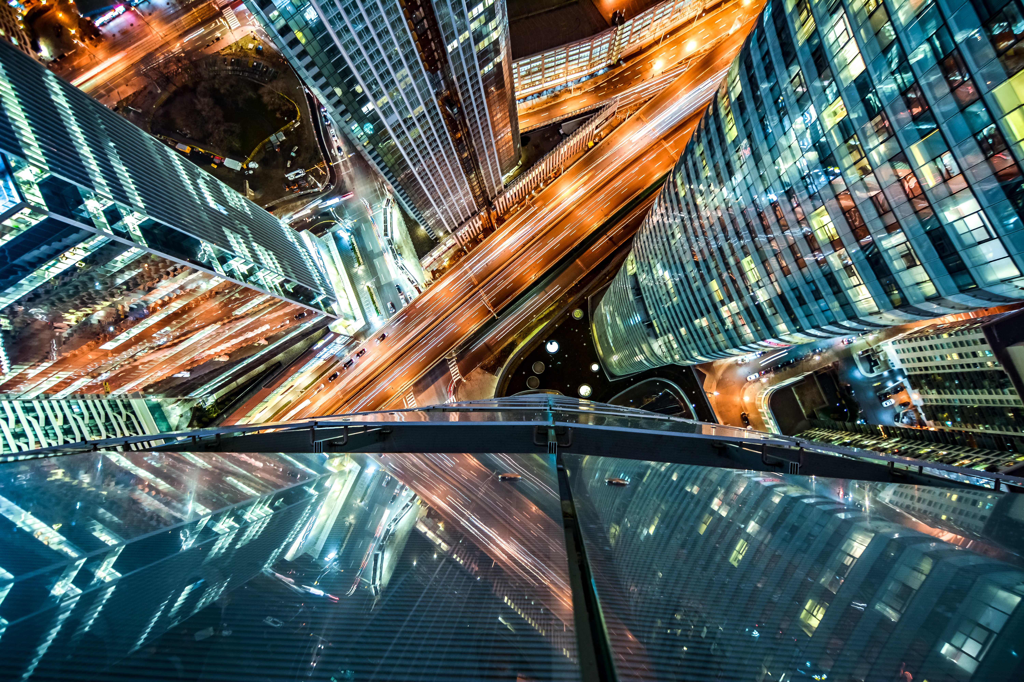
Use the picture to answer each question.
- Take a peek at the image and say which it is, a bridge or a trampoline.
bridge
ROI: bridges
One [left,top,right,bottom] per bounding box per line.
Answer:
[267,8,763,422]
